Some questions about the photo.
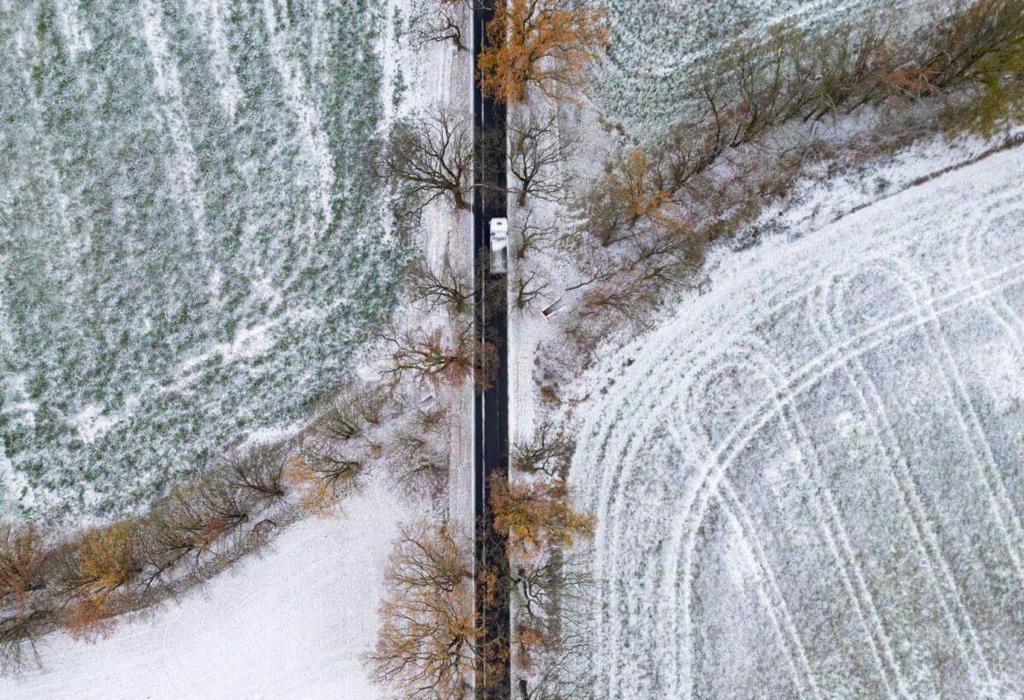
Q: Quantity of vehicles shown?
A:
one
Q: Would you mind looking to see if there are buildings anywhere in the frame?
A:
No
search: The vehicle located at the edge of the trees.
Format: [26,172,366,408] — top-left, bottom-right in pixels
[488,217,510,275]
